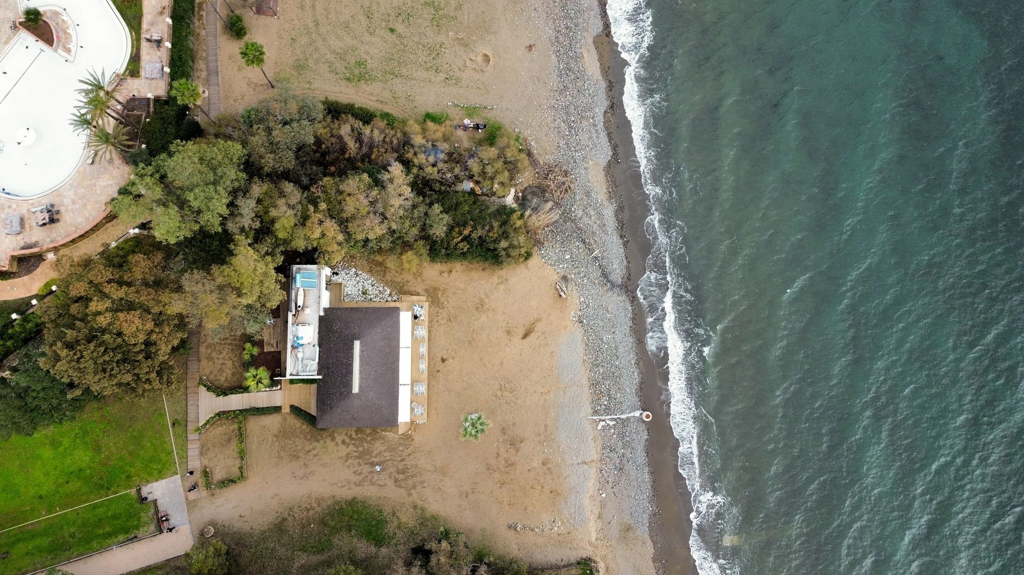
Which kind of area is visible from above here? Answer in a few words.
beach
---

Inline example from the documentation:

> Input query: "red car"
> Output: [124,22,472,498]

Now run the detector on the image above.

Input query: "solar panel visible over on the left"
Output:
[301,271,317,289]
